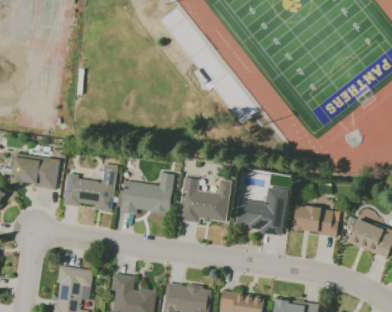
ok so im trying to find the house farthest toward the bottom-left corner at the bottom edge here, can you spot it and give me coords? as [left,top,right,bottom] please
[54,266,92,312]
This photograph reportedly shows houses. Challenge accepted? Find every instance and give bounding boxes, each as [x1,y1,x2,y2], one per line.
[181,176,232,224]
[63,164,118,212]
[240,188,288,234]
[164,283,212,312]
[13,157,61,188]
[54,266,92,312]
[218,291,264,312]
[348,218,392,259]
[272,298,320,312]
[116,173,176,216]
[292,206,340,236]
[108,274,156,312]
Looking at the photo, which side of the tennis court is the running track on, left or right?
to the right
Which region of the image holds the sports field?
top right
